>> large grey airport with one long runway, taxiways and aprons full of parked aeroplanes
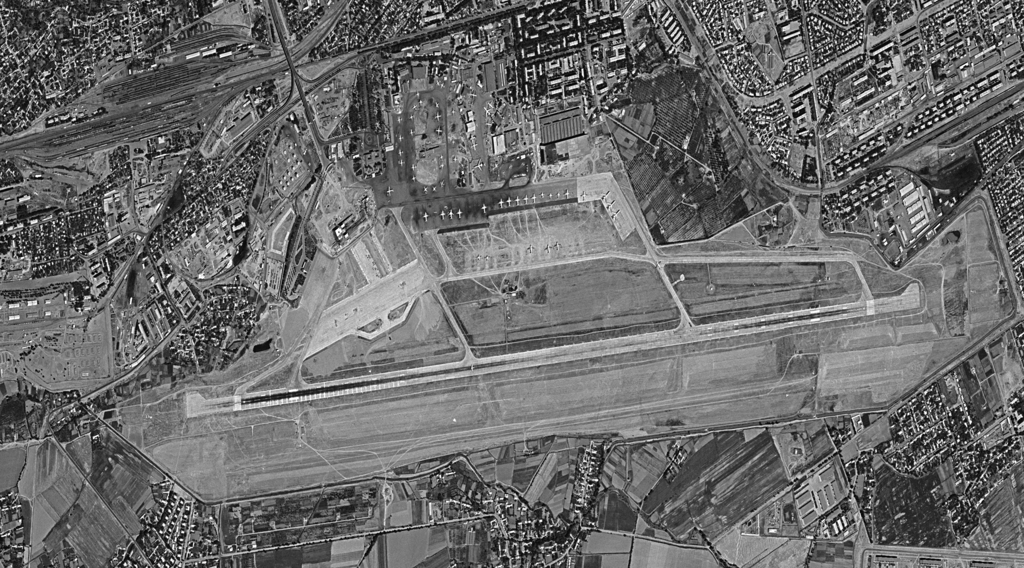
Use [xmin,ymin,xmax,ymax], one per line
[187,78,920,418]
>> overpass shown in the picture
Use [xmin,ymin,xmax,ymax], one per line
[268,0,321,147]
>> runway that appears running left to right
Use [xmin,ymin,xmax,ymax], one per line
[232,299,875,411]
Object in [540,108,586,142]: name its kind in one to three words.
building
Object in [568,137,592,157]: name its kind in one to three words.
building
